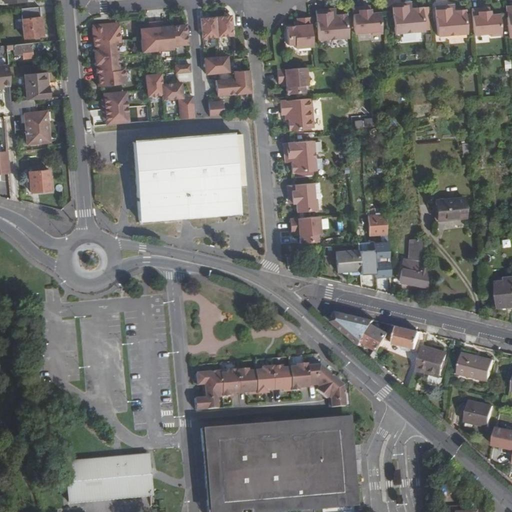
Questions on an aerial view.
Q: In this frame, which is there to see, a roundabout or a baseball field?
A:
roundabout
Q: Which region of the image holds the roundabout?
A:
left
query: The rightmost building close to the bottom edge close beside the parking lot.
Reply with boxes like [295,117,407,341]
[204,414,360,512]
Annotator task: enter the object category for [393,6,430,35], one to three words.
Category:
house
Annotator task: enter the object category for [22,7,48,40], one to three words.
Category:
house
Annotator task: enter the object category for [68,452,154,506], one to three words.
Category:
building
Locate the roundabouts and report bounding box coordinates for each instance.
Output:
[58,228,122,292]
